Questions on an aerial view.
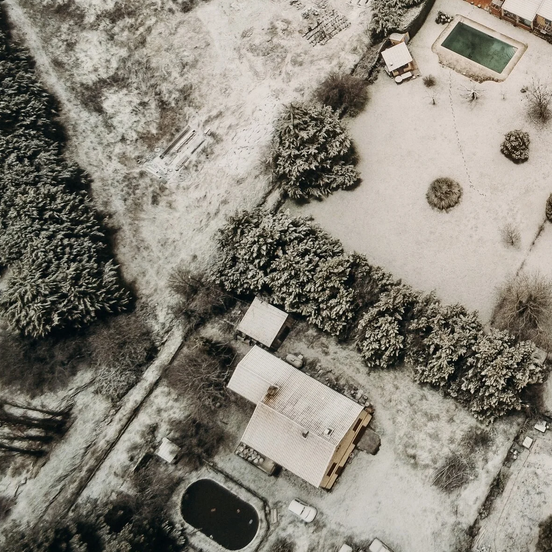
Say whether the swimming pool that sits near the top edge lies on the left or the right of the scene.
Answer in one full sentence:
The swimming pool that sits near the top edge sits on the right side.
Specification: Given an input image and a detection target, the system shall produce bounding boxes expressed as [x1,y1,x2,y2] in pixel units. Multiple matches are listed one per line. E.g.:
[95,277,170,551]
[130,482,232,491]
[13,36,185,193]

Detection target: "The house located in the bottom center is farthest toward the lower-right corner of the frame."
[232,346,371,490]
